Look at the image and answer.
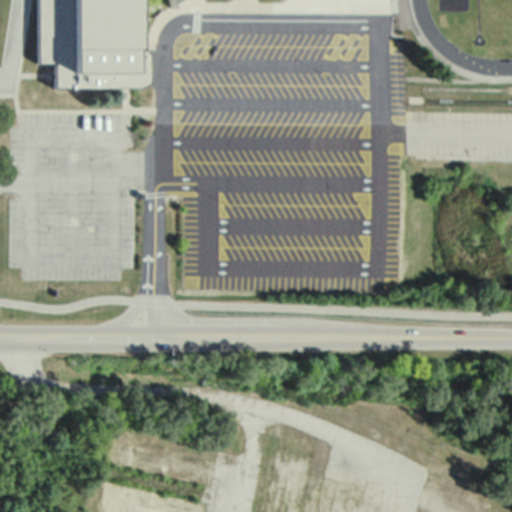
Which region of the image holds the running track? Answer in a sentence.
You can find the running track in the top right area of the picture.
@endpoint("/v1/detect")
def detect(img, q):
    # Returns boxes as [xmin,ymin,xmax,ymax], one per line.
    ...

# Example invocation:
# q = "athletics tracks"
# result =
[410,0,512,79]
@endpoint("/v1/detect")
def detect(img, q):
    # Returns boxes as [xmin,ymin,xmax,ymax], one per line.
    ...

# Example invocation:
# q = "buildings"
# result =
[38,0,153,90]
